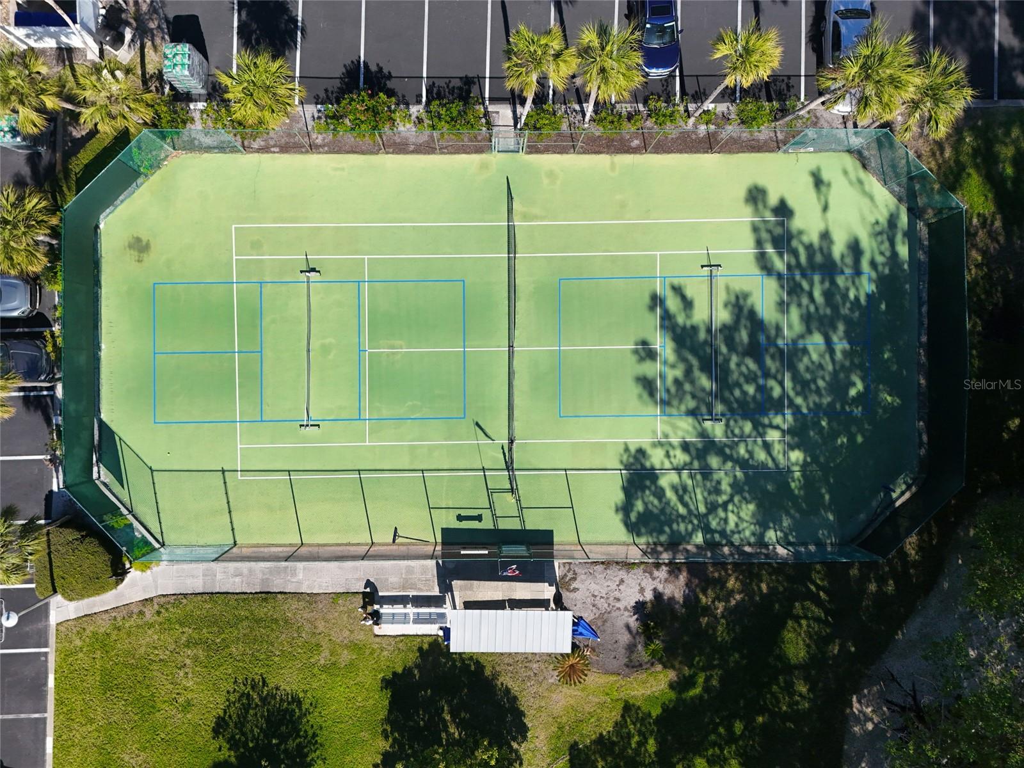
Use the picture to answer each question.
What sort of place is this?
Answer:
sports ground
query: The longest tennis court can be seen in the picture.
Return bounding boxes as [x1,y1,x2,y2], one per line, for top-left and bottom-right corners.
[101,153,919,543]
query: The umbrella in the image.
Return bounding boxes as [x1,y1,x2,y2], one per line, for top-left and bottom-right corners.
[572,616,602,640]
